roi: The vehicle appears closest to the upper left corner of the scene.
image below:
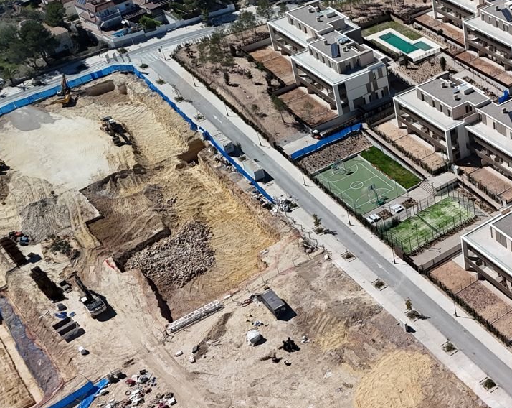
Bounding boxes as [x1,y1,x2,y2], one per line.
[49,83,77,105]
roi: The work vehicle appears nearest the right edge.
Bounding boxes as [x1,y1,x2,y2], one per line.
[103,113,120,139]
